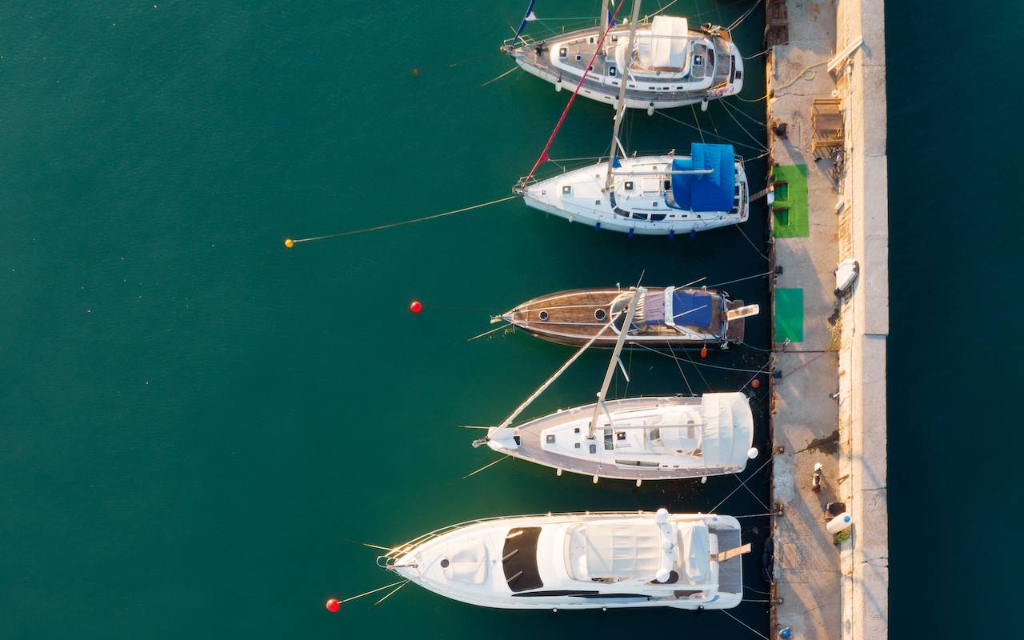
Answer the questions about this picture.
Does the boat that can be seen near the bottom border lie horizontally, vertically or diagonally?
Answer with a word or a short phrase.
horizontally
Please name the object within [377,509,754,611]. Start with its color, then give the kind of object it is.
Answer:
white boat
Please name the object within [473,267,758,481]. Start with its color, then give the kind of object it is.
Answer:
white boat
